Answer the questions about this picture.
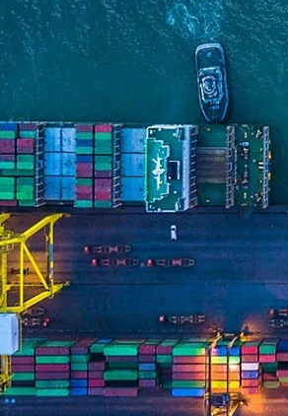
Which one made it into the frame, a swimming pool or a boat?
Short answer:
boat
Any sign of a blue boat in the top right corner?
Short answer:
Yes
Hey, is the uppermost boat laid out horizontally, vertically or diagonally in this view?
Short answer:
vertically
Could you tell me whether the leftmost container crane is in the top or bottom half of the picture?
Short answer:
bottom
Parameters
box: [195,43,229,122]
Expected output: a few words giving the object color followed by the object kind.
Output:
blue boat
